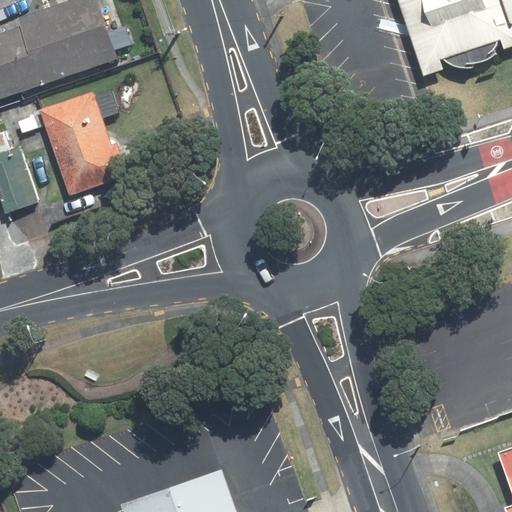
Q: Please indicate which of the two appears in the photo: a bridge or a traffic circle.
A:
traffic circle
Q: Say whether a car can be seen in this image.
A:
Yes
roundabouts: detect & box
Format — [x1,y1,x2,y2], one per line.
[266,198,326,265]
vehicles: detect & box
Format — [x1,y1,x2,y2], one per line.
[256,258,274,284]
[0,0,30,21]
[376,18,406,34]
[32,156,49,185]
[63,193,96,213]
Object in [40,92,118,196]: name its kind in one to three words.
house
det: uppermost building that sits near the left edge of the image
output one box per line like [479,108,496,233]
[0,0,117,102]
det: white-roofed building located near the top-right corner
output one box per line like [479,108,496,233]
[398,0,512,76]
